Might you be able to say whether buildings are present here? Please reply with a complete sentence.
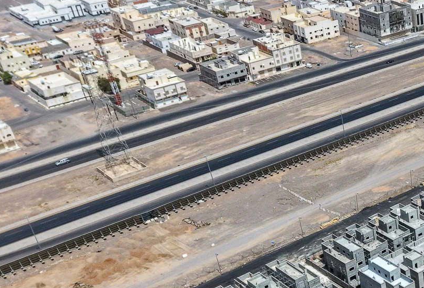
Yes, a building can be made out from above.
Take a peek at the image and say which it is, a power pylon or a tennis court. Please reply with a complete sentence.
Looking from above, you can make out a power pylon.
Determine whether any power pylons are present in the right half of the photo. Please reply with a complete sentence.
No, no power pylon is visible in the right half of the photo.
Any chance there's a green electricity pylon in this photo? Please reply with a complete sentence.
No, there is no green electricity pylon in the image.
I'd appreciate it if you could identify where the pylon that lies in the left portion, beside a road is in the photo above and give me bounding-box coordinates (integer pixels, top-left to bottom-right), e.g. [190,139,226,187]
[75,52,135,170]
